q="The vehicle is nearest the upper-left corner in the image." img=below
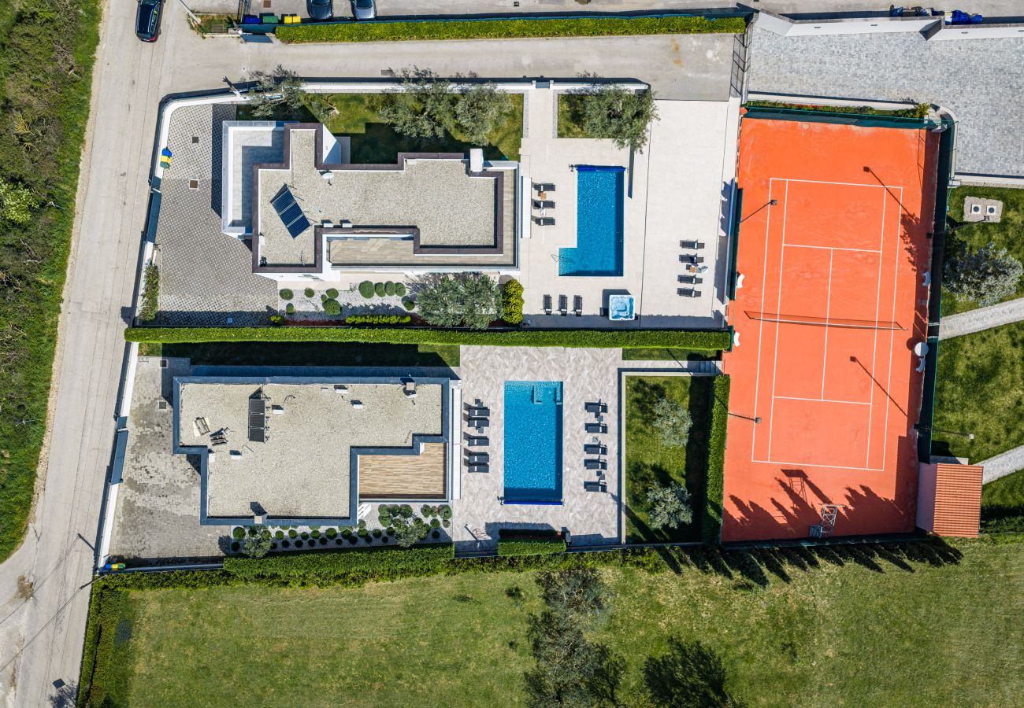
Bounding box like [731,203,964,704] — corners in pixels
[135,0,167,44]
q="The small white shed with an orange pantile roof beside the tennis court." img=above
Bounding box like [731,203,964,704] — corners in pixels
[917,462,983,538]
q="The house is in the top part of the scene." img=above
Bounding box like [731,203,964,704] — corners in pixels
[223,121,532,281]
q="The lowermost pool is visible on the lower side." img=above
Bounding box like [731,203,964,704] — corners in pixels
[501,378,566,508]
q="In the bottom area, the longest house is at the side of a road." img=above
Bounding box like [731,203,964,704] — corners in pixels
[173,375,465,526]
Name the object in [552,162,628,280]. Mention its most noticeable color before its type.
blue swimming pool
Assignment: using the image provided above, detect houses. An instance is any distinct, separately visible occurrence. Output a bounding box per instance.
[223,121,532,281]
[173,375,465,526]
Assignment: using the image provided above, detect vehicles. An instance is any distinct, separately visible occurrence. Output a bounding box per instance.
[352,0,375,19]
[135,0,167,44]
[308,0,332,19]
